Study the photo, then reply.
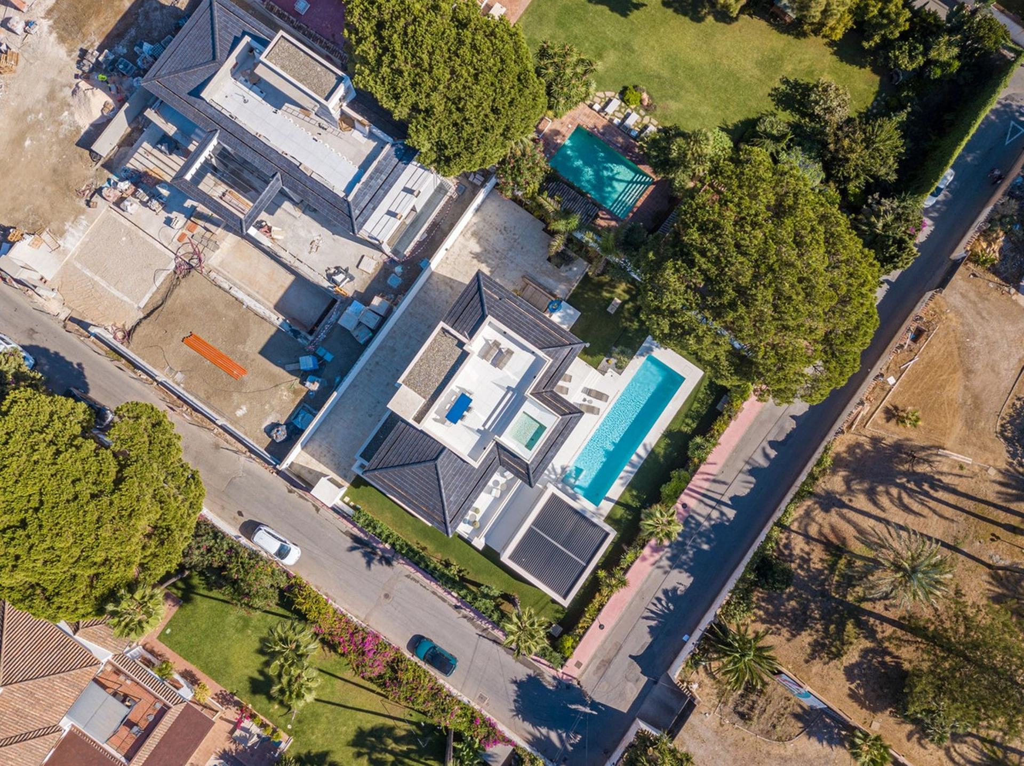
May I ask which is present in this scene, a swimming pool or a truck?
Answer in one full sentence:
Visible in the photo is a swimming pool.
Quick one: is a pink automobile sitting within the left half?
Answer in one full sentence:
No, the scene shows no pink automobile within the left half.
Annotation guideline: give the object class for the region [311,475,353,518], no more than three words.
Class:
building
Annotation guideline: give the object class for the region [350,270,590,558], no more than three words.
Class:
house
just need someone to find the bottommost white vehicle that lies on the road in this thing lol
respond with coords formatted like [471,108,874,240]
[247,520,304,568]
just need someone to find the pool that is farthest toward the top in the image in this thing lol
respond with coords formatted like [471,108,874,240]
[549,125,653,218]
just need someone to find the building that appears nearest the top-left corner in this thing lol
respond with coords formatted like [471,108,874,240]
[91,0,455,262]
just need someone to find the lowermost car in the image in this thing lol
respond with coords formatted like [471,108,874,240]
[411,634,461,679]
